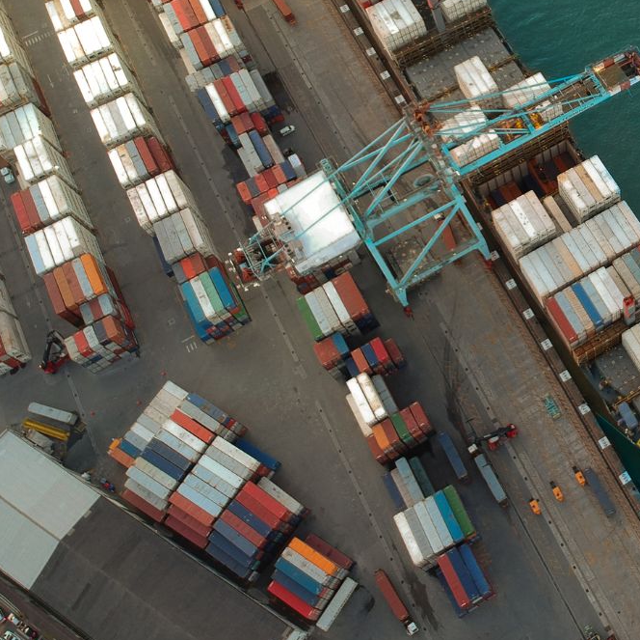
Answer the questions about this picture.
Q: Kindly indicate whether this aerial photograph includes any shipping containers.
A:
Yes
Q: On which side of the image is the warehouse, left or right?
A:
left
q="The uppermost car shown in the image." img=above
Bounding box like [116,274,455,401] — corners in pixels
[280,126,294,139]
